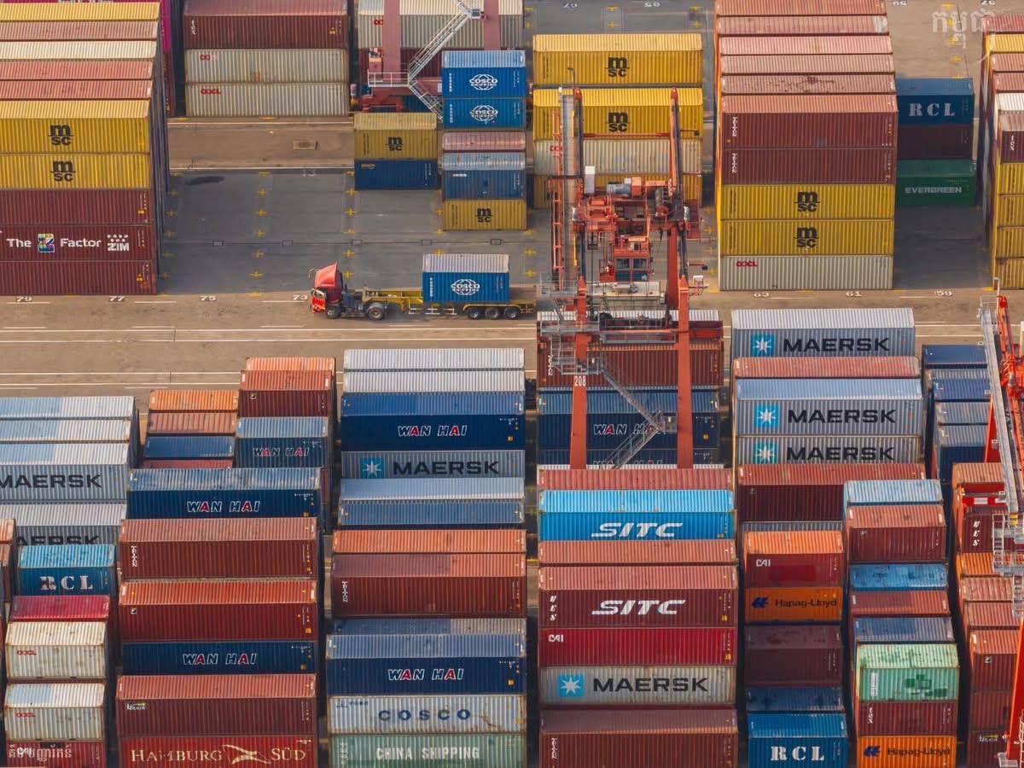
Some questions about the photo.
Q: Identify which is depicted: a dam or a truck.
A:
truck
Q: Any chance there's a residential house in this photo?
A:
No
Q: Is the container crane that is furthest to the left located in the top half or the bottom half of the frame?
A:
top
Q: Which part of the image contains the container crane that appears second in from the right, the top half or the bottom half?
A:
top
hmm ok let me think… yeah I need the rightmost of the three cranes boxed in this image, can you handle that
[958,262,1024,768]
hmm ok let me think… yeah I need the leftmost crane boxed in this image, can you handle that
[360,0,527,130]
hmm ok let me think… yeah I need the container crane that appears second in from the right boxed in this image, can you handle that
[533,65,728,469]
